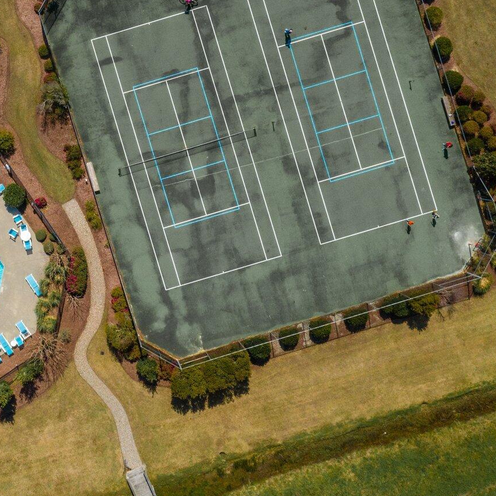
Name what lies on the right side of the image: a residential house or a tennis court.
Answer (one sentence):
There is a tennis court on the right side of the image.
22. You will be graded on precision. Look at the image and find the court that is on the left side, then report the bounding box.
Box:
[91,5,281,291]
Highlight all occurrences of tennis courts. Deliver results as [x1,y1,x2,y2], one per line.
[91,5,281,291]
[248,0,437,245]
